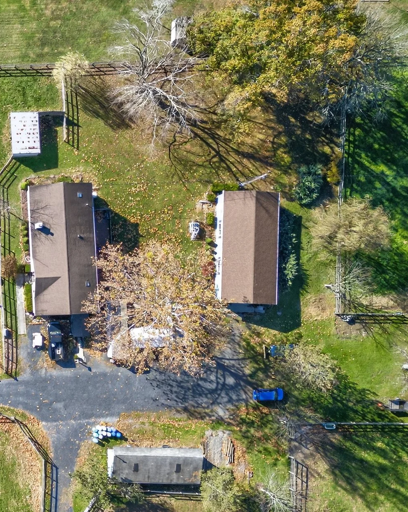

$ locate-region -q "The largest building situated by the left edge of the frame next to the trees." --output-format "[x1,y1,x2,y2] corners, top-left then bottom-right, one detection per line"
[18,182,108,316]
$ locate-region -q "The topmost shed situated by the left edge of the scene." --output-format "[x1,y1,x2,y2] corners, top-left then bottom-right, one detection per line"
[9,111,40,156]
